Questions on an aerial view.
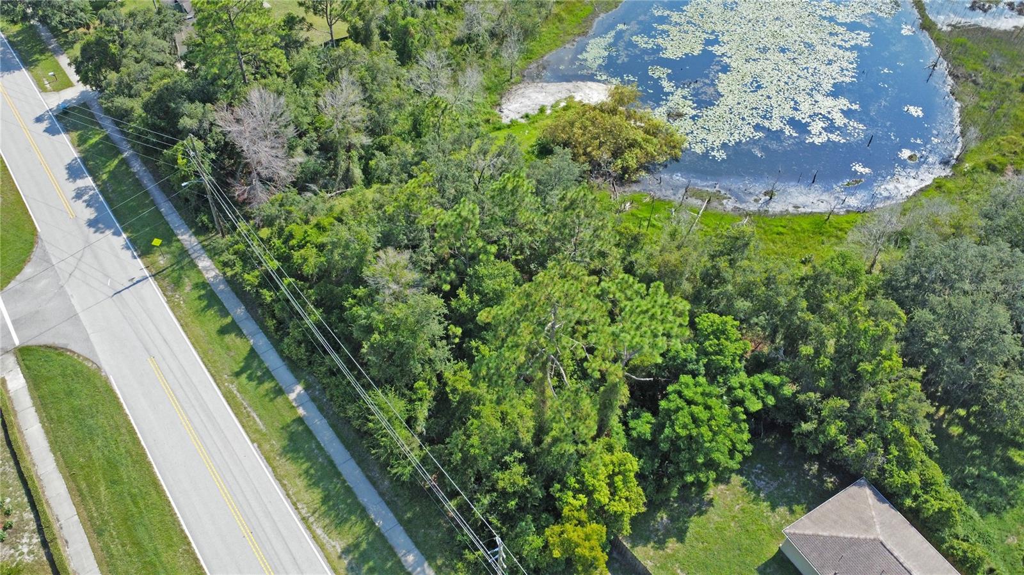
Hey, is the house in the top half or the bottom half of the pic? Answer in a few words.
bottom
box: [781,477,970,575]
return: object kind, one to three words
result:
house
